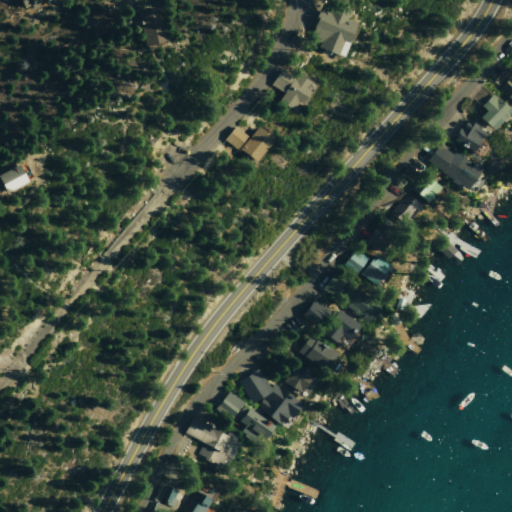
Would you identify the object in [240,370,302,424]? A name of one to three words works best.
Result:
house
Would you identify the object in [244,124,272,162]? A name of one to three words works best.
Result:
building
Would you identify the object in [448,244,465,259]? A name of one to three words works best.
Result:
boat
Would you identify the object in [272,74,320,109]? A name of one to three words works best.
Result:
house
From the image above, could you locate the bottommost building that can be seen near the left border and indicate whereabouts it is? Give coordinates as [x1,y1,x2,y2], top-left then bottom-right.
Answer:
[0,164,30,192]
